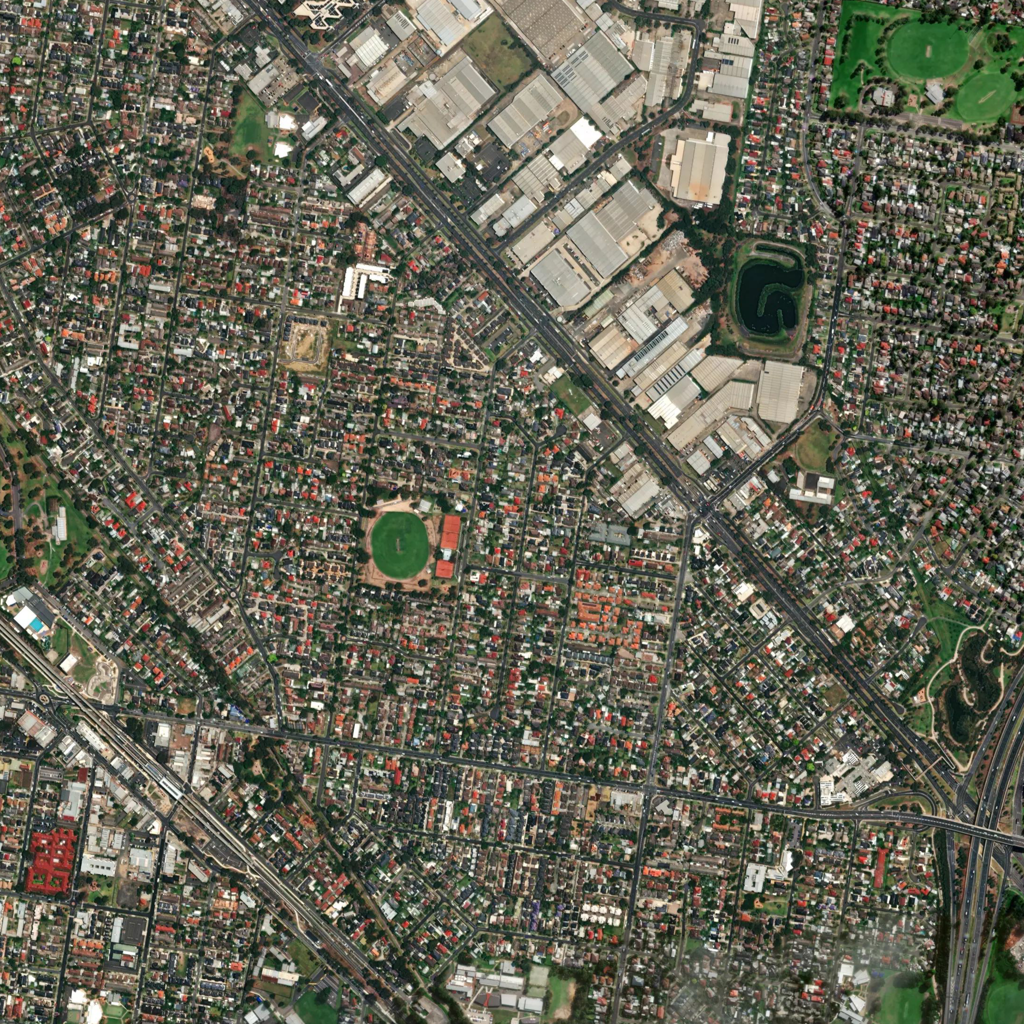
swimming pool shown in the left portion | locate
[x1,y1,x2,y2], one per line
[30,616,50,635]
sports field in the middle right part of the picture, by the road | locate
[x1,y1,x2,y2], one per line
[797,418,835,475]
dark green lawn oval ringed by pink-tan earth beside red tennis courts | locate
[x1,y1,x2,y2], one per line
[371,510,429,580]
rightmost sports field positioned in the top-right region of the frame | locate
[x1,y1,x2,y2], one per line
[956,72,1017,123]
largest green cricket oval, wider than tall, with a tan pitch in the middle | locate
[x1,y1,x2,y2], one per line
[886,18,970,79]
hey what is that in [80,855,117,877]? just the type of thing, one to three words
building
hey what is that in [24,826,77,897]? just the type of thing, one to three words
house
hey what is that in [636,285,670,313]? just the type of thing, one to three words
building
